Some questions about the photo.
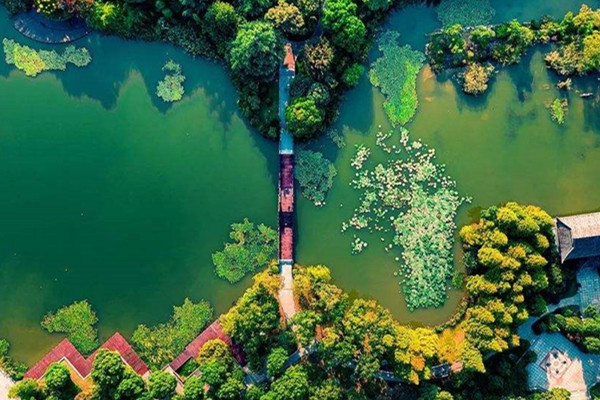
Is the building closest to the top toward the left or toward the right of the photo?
right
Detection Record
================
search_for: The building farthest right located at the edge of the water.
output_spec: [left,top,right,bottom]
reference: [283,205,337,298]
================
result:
[548,212,600,264]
